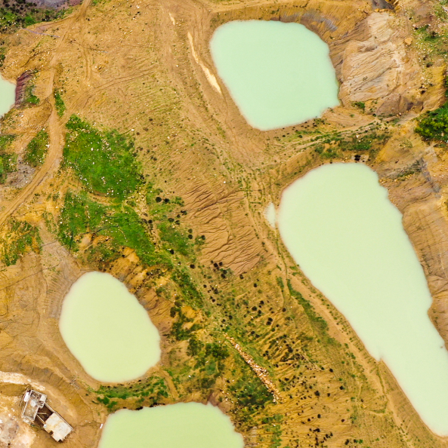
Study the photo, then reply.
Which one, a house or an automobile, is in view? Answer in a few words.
house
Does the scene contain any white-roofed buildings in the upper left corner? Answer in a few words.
No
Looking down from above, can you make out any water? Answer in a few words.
Yes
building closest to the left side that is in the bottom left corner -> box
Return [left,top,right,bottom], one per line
[20,389,47,422]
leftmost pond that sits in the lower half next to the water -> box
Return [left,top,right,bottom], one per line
[57,271,160,382]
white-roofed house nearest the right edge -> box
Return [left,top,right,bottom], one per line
[38,402,73,441]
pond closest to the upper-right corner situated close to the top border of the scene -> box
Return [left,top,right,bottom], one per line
[209,19,341,131]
